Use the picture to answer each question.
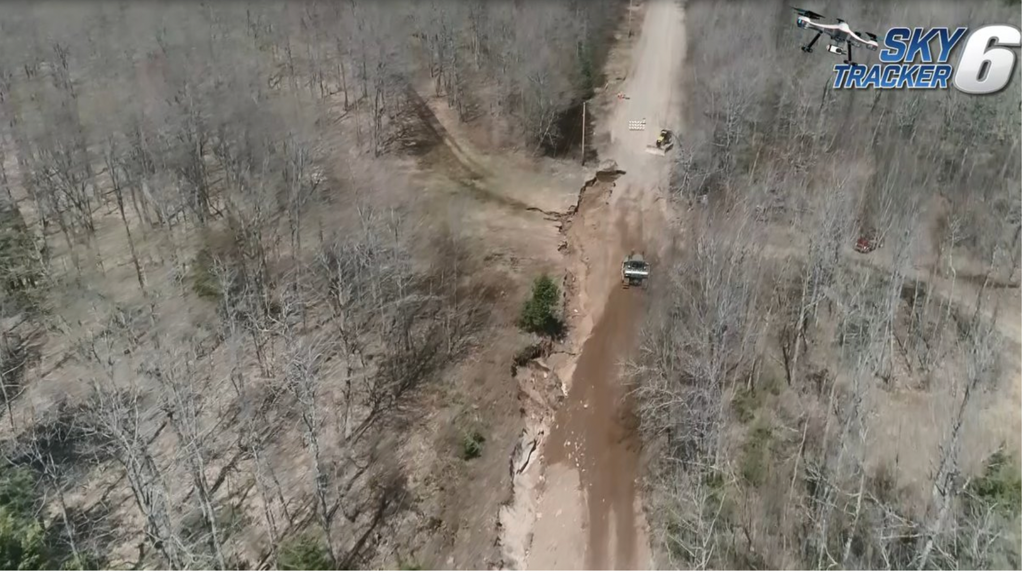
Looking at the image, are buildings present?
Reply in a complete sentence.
No, there is no building in the image.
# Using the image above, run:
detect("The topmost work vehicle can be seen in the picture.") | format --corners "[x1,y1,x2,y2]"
[650,127,677,156]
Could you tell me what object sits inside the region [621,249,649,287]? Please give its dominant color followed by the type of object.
gray work vehicle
